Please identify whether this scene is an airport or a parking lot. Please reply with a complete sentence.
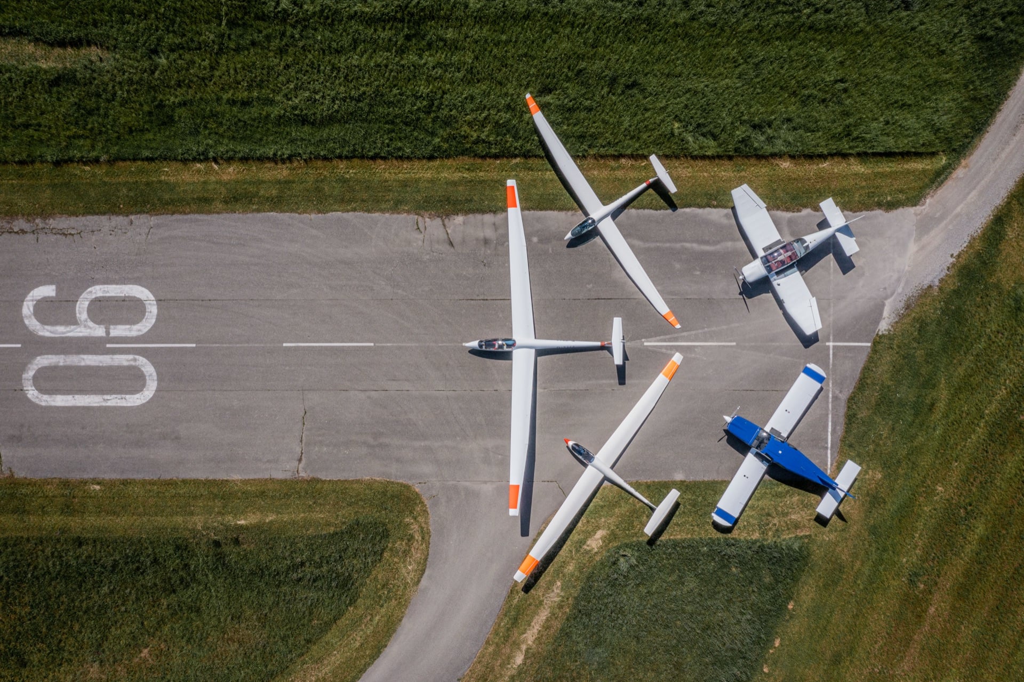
The picture captures an airport.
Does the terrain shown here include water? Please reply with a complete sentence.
No, there's no water in this view.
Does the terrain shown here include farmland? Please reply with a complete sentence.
No, the scene doesn't show any farmland.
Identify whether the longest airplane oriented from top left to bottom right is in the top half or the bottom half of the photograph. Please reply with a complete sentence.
Seen from above, the longest airplane oriented from top left to bottom right lies in the top half of the view.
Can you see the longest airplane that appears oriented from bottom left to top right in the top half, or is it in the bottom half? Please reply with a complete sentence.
It is in the bottom half that the longest airplane that appears oriented from bottom left to top right appears.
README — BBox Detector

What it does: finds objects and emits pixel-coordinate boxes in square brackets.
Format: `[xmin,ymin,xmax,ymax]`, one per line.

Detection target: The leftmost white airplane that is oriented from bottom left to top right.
[514,353,683,582]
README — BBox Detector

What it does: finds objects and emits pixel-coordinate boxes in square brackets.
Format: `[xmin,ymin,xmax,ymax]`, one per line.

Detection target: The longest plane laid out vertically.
[465,180,625,516]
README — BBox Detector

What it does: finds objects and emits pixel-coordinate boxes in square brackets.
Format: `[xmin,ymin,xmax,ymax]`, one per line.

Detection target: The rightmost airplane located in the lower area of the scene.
[713,363,861,526]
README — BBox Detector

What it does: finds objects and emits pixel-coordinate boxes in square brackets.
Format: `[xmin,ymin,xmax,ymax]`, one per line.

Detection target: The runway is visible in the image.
[0,207,916,682]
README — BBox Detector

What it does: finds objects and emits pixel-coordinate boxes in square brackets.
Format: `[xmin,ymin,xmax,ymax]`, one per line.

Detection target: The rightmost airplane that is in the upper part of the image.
[731,184,859,335]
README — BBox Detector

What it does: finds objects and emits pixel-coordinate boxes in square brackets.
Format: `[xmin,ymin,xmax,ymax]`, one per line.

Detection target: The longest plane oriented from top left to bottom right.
[526,94,681,328]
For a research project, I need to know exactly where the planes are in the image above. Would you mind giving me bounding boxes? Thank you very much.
[713,363,861,526]
[731,184,859,335]
[465,180,625,516]
[526,94,681,328]
[514,353,683,582]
